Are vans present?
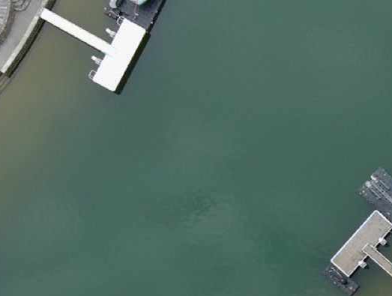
No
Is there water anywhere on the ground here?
Yes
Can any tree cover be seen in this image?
No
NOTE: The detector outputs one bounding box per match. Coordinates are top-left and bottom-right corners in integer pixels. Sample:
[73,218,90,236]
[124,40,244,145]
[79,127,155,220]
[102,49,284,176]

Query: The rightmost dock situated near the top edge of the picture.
[128,0,171,32]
